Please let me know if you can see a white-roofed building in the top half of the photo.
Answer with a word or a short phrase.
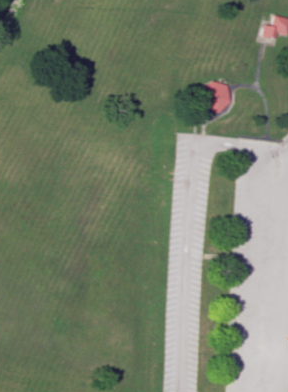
No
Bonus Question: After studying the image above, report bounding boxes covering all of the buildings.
[203,80,232,114]
[260,14,288,38]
